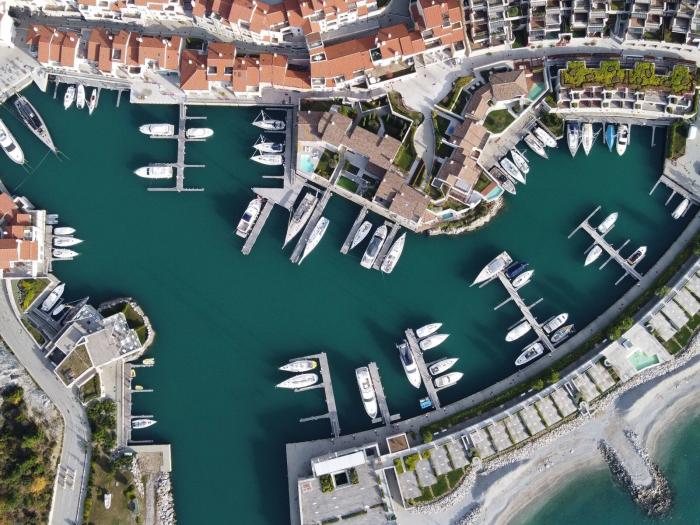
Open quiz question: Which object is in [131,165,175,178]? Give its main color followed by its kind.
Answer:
white boat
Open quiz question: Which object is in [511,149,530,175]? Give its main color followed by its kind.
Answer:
white boat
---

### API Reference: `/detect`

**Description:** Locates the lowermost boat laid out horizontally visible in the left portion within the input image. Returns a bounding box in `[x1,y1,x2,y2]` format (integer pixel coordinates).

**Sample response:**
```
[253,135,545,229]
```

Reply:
[131,418,159,432]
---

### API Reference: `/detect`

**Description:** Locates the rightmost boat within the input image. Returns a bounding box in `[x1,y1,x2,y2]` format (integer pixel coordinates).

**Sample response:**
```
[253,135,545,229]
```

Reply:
[673,196,690,220]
